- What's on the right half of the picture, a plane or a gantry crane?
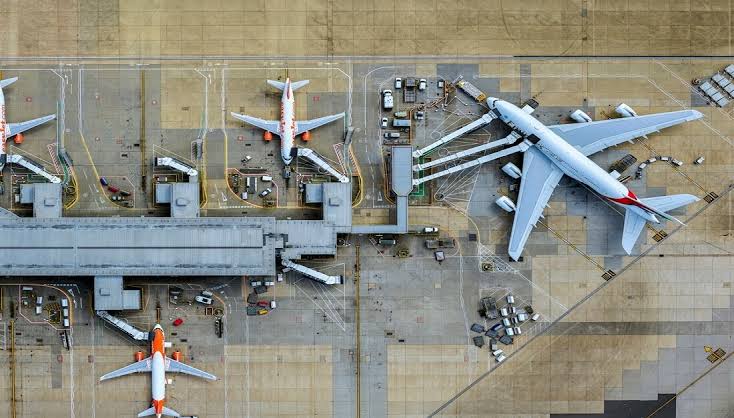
plane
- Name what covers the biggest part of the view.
paved ground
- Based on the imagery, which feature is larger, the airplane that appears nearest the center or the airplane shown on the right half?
the airplane shown on the right half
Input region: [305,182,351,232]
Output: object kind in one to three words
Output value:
building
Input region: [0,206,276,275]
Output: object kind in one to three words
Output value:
building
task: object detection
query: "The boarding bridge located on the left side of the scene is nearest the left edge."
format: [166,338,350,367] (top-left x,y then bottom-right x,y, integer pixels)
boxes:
[6,153,62,183]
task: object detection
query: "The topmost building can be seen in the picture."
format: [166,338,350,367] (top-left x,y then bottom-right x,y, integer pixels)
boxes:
[391,146,413,196]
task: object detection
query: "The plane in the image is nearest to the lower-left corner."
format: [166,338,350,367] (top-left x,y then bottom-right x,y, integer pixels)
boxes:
[96,323,220,418]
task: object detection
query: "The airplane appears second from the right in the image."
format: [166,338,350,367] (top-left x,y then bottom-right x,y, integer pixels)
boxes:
[232,79,345,165]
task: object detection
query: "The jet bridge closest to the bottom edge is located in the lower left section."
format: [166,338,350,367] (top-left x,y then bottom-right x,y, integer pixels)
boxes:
[95,310,153,341]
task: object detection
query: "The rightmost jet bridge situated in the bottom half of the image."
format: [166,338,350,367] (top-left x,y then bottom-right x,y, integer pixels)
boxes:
[282,260,344,286]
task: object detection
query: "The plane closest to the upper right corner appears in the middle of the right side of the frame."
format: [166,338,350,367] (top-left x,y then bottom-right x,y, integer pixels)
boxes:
[486,97,707,259]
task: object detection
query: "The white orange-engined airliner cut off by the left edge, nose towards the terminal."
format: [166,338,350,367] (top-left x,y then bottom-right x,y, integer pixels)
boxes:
[0,77,56,170]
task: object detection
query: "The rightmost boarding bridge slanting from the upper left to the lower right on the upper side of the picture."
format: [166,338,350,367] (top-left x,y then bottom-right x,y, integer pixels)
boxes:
[293,146,348,182]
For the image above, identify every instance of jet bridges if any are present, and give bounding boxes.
[95,310,153,341]
[413,138,538,185]
[413,110,499,157]
[293,146,348,182]
[282,260,344,286]
[413,133,523,171]
[6,153,62,183]
[156,156,199,176]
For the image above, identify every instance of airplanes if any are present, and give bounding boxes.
[486,97,707,259]
[96,323,220,418]
[232,79,345,165]
[0,77,56,170]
